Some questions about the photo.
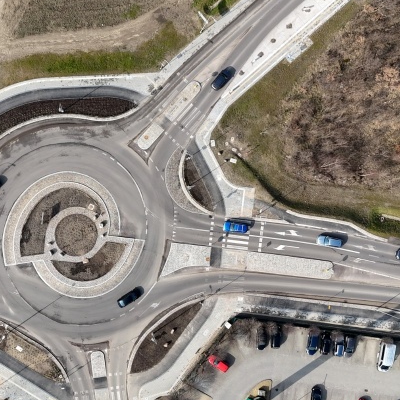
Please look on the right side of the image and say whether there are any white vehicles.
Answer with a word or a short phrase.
Yes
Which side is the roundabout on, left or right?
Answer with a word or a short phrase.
left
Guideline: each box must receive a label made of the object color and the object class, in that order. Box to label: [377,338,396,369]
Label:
white vehicle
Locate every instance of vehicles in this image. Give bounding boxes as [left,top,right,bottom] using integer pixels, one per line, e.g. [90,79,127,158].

[316,234,344,247]
[310,384,323,400]
[205,352,230,373]
[395,248,400,258]
[377,338,396,369]
[224,220,250,232]
[304,330,318,355]
[269,325,280,348]
[117,285,143,307]
[254,323,266,350]
[209,66,234,91]
[318,330,331,355]
[342,333,356,357]
[331,334,345,356]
